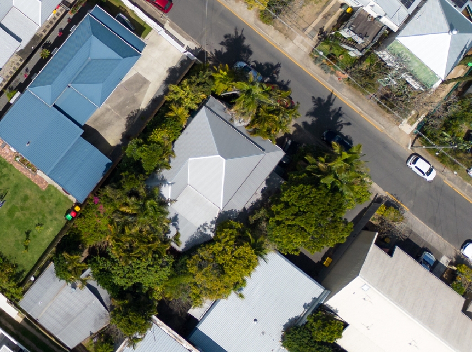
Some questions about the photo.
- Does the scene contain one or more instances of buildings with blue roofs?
Yes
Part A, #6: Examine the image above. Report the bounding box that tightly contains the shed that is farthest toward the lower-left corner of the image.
[18,262,113,350]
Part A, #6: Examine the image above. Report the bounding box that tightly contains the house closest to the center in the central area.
[141,93,285,253]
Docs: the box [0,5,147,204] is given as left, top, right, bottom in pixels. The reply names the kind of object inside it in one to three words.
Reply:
house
